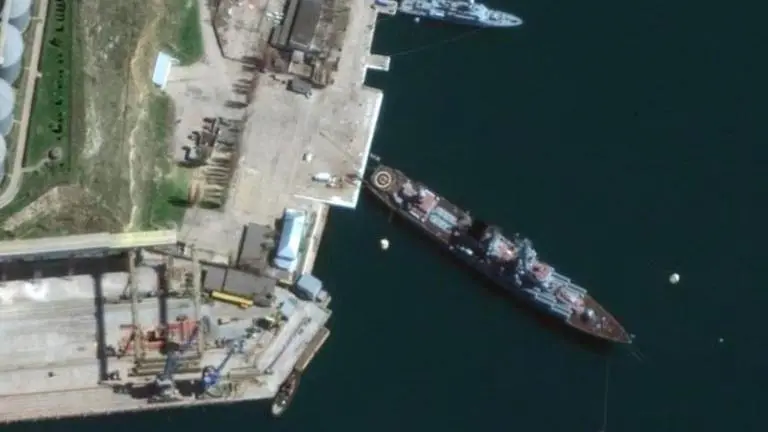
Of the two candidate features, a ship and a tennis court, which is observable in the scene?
ship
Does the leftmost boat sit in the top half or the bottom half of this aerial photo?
bottom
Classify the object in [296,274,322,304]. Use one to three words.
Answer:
house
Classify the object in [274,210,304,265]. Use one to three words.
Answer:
building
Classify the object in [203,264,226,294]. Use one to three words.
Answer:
building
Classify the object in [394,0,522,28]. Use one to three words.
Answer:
ship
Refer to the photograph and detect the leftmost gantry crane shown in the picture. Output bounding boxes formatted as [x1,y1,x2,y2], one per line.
[124,248,148,386]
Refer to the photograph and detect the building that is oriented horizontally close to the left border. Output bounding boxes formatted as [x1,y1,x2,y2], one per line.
[0,230,178,280]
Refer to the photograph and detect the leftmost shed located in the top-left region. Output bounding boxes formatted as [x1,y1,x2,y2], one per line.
[152,52,172,88]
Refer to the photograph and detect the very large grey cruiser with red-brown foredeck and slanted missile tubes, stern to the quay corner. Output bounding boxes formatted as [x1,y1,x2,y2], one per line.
[365,166,629,344]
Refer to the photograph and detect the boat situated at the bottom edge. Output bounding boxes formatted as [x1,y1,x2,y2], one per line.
[272,372,302,414]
